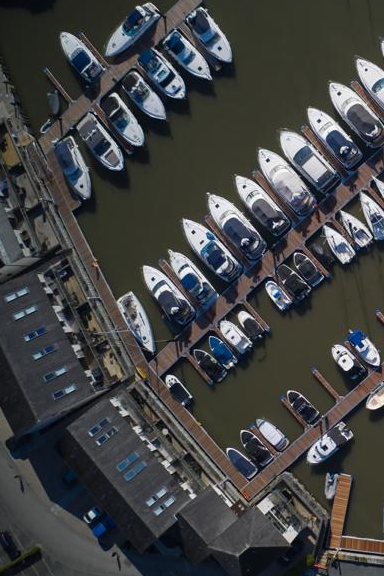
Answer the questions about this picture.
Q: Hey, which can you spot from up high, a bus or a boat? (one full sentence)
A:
I can see a boat in this picture.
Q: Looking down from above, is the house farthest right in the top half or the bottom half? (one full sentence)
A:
The house farthest right is in the bottom half of the image.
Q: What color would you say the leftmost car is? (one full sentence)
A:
The leftmost car is black.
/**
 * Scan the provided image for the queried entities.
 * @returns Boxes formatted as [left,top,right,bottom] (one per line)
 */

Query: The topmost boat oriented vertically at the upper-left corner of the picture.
[50,89,62,116]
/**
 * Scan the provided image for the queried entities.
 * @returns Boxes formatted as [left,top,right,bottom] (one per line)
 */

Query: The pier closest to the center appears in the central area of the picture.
[159,258,202,310]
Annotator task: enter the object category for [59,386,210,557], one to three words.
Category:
house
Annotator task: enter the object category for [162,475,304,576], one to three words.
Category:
house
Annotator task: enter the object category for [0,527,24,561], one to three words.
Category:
car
